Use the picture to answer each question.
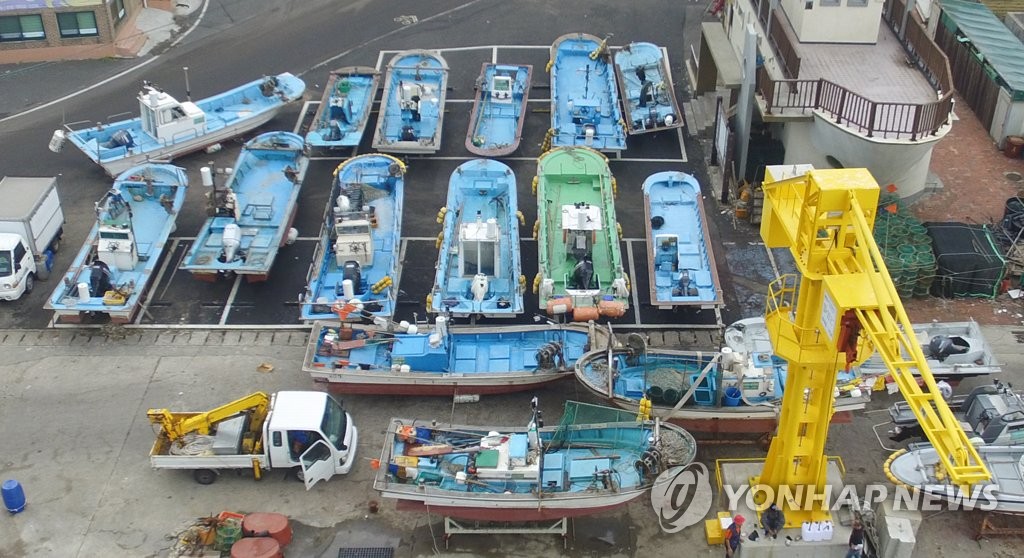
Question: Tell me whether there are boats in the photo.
Yes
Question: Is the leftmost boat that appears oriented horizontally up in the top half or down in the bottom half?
top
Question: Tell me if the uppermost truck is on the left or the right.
left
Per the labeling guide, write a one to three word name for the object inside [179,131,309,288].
boat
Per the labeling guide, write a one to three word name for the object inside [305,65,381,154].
boat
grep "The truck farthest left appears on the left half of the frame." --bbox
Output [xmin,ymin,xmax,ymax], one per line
[0,177,69,302]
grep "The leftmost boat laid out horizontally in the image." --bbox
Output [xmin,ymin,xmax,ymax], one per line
[69,59,302,174]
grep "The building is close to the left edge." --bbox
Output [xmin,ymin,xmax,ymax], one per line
[0,0,157,66]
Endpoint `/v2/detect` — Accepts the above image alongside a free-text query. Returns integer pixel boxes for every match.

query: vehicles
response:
[145,385,360,497]
[0,177,69,302]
